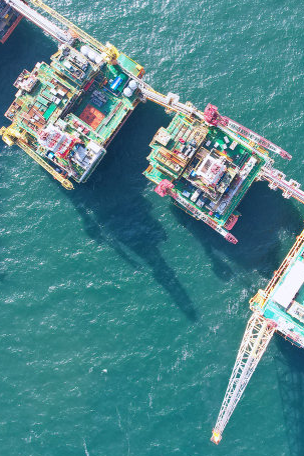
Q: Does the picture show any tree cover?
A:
No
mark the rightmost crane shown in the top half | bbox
[199,104,292,160]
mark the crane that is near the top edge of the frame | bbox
[31,0,124,65]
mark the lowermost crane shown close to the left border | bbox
[0,125,72,188]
